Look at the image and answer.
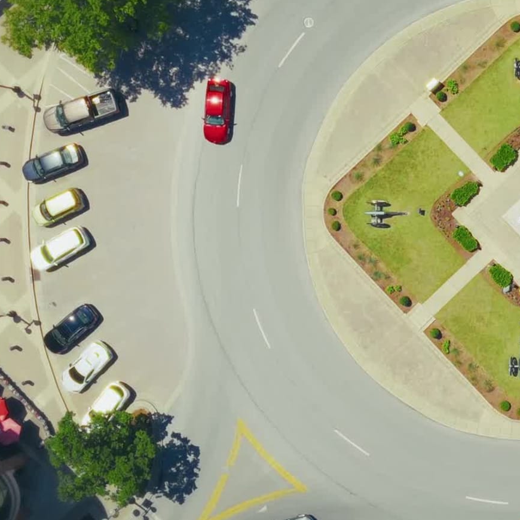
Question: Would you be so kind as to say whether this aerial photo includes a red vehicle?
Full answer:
Yes, looking at the shot, I can spot a red vehicle.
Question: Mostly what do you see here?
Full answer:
The scene is dominated by paved ground.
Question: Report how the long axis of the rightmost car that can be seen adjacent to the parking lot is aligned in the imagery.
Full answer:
The rightmost car that can be seen adjacent to the parking lot is oriented up and down.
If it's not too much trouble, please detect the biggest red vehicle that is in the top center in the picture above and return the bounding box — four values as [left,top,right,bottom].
[200,79,234,145]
